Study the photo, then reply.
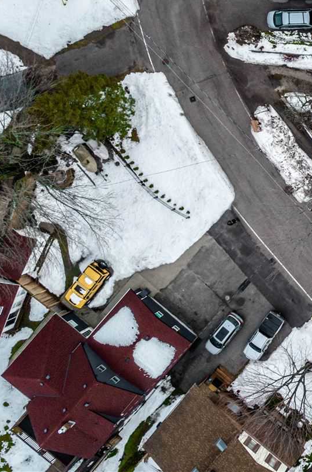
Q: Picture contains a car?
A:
Yes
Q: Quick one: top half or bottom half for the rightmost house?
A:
bottom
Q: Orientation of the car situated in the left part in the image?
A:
diagonally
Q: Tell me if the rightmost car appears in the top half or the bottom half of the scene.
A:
top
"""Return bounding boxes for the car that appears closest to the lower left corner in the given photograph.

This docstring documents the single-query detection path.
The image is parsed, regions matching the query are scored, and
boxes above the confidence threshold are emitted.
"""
[62,260,106,311]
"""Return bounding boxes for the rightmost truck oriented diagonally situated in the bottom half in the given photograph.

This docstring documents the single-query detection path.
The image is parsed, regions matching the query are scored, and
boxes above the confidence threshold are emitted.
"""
[237,307,289,366]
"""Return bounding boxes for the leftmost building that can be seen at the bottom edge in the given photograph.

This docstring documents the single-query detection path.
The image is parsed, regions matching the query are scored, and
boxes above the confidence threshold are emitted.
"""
[0,288,197,472]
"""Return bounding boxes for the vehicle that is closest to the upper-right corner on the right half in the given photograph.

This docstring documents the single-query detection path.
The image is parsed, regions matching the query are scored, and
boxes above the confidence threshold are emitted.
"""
[265,8,312,31]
